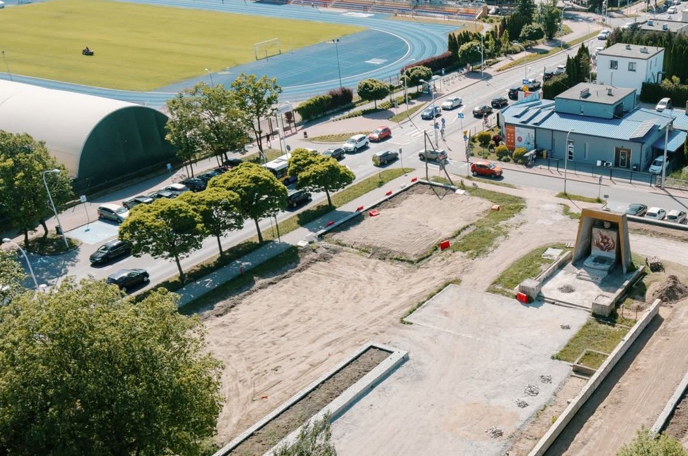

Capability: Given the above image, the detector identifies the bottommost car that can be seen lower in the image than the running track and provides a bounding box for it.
[103,266,151,289]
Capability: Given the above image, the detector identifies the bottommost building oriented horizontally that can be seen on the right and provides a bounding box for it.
[497,82,688,175]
